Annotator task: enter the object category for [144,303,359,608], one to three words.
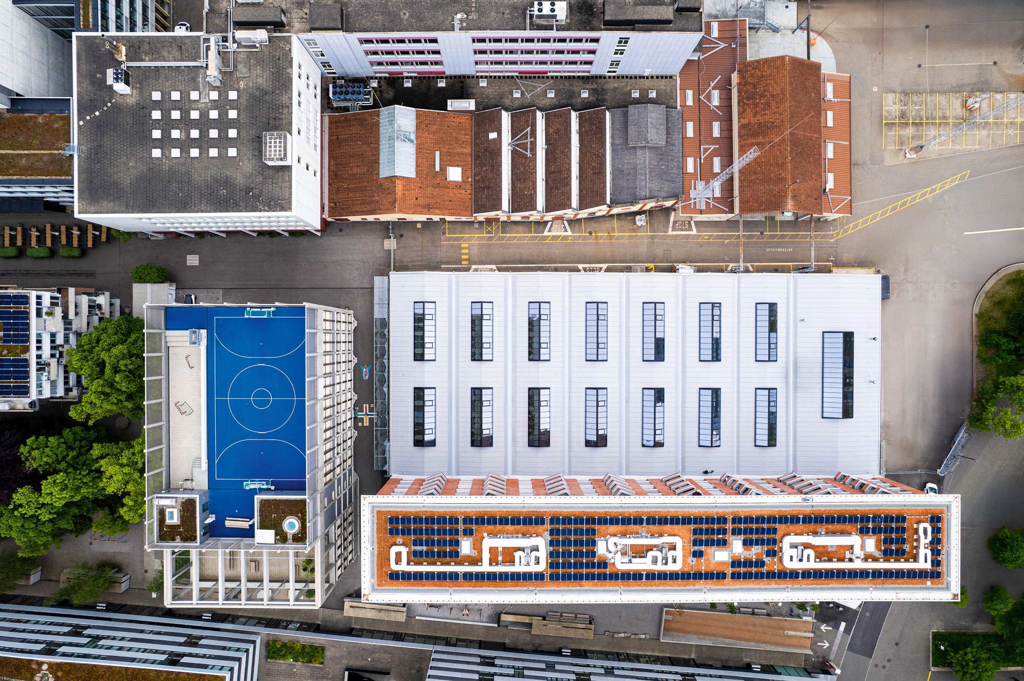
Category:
building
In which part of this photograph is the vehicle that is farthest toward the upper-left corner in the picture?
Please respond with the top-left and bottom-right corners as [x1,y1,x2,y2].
[174,17,186,31]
